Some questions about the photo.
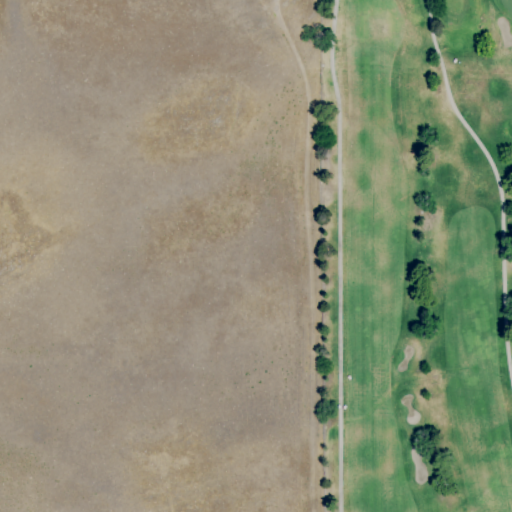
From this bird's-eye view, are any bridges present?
No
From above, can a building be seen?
No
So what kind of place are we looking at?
golf course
